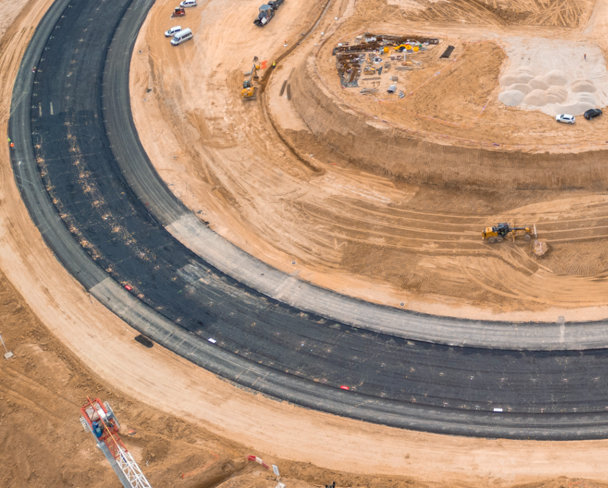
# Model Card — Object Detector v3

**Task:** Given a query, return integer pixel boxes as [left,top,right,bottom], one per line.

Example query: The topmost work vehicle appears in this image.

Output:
[169,5,184,17]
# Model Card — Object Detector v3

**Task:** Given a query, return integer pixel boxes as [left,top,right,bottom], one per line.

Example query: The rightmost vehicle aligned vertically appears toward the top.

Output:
[240,60,258,100]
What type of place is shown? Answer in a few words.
sports ground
